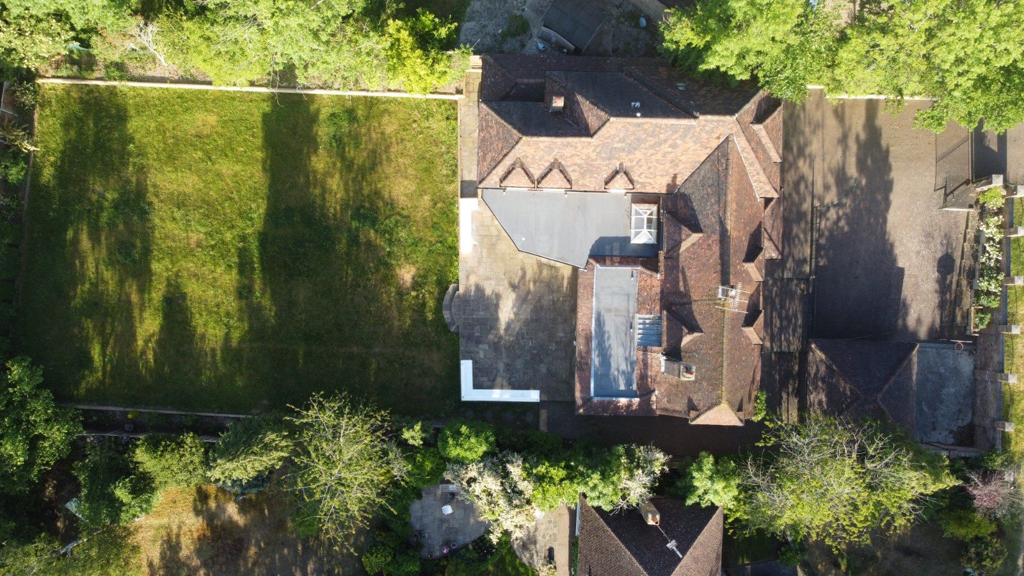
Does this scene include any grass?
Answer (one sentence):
Yes, there is grass in the image.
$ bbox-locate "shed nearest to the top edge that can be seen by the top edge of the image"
[537,0,619,55]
